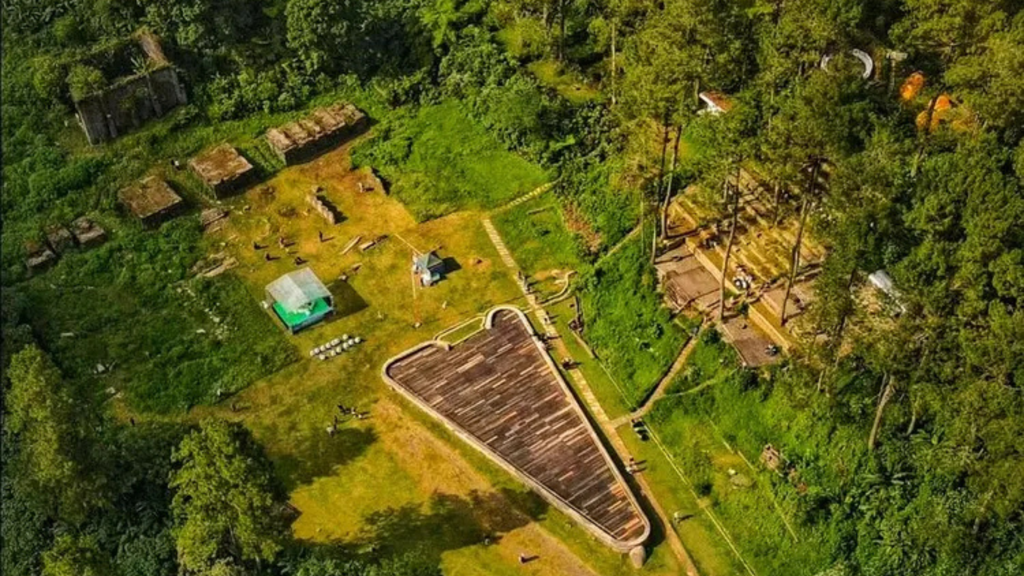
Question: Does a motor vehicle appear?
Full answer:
No, no motor vehicle can be seen from above.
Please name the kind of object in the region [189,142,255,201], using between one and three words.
shed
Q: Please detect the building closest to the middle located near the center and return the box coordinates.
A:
[410,254,448,297]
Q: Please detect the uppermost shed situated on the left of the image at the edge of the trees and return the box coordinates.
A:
[266,102,367,166]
